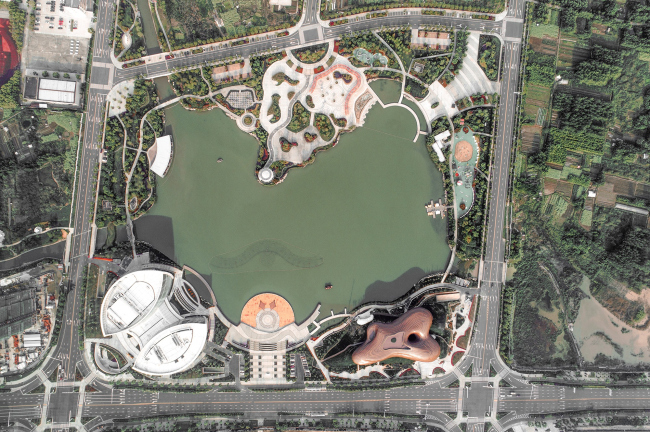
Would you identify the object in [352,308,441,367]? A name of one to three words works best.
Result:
building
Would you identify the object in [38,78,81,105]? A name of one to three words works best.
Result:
building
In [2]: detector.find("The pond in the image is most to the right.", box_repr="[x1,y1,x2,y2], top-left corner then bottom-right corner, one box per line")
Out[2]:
[574,276,650,362]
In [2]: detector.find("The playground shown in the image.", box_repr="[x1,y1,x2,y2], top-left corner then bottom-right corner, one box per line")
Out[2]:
[453,127,477,216]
